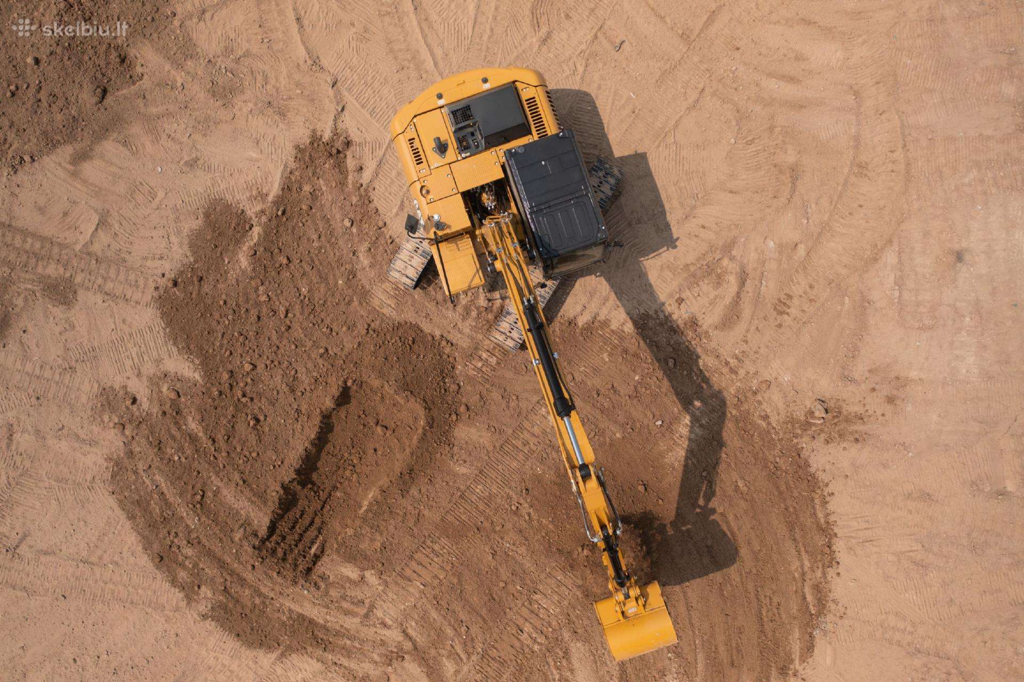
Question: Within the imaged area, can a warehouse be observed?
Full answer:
No, there appears to be no warehouse in this shot.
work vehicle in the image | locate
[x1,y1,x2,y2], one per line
[385,62,681,662]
